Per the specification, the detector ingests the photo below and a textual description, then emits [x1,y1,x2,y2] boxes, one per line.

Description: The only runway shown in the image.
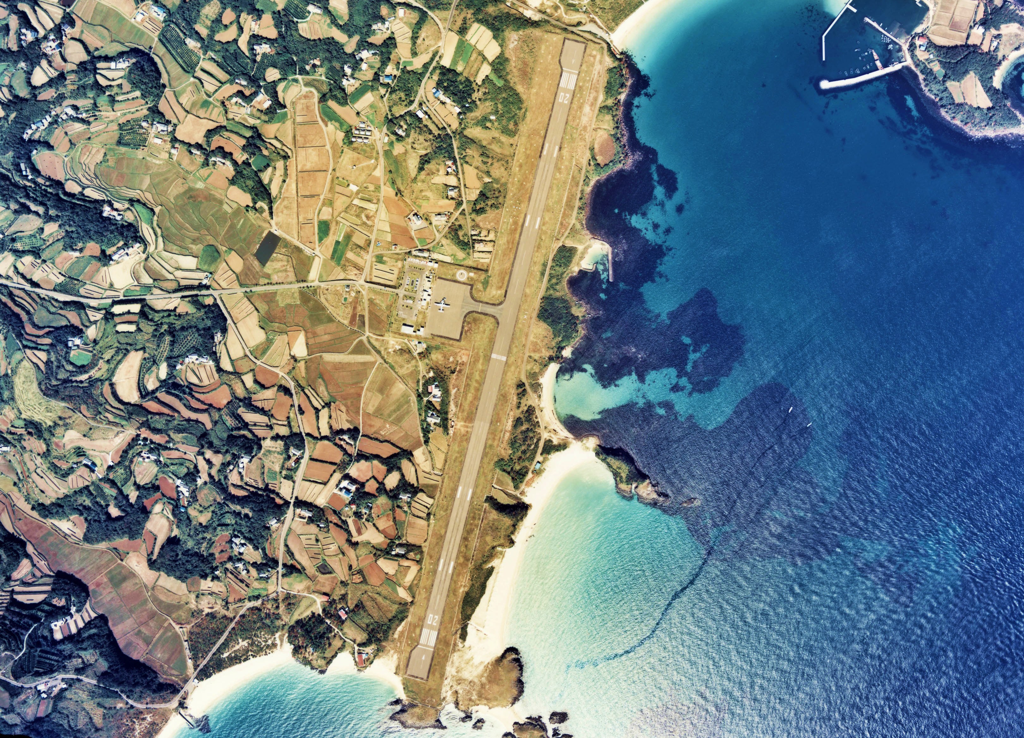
[418,51,579,669]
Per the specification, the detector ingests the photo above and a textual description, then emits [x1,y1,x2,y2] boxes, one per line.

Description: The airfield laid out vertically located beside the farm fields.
[395,30,599,707]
